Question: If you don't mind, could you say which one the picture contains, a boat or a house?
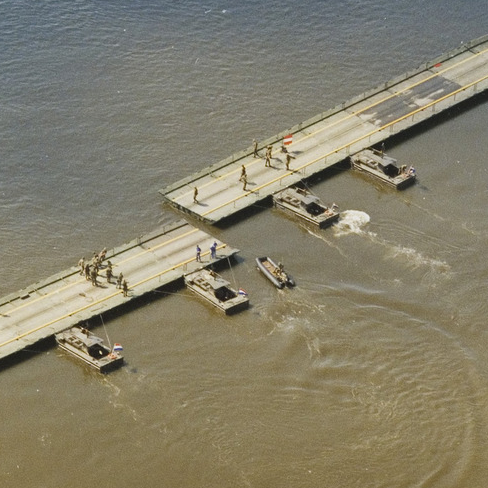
boat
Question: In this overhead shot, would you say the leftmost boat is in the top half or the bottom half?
bottom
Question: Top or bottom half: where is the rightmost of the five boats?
top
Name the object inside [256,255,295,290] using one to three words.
boat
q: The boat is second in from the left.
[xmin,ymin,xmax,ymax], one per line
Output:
[189,258,253,317]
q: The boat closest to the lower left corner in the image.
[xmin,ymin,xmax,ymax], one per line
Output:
[63,314,127,378]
